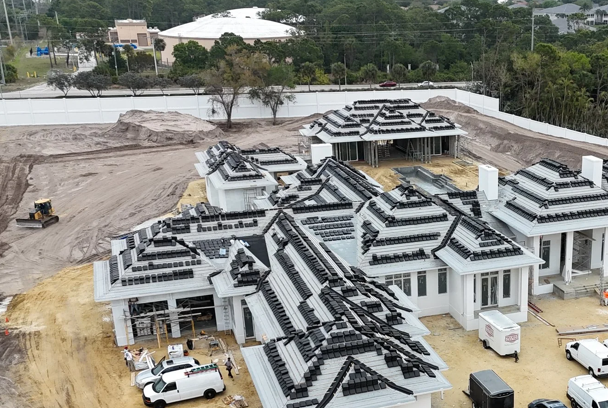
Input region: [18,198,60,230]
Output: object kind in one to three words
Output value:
work vehicle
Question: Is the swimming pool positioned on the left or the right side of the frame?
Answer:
right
